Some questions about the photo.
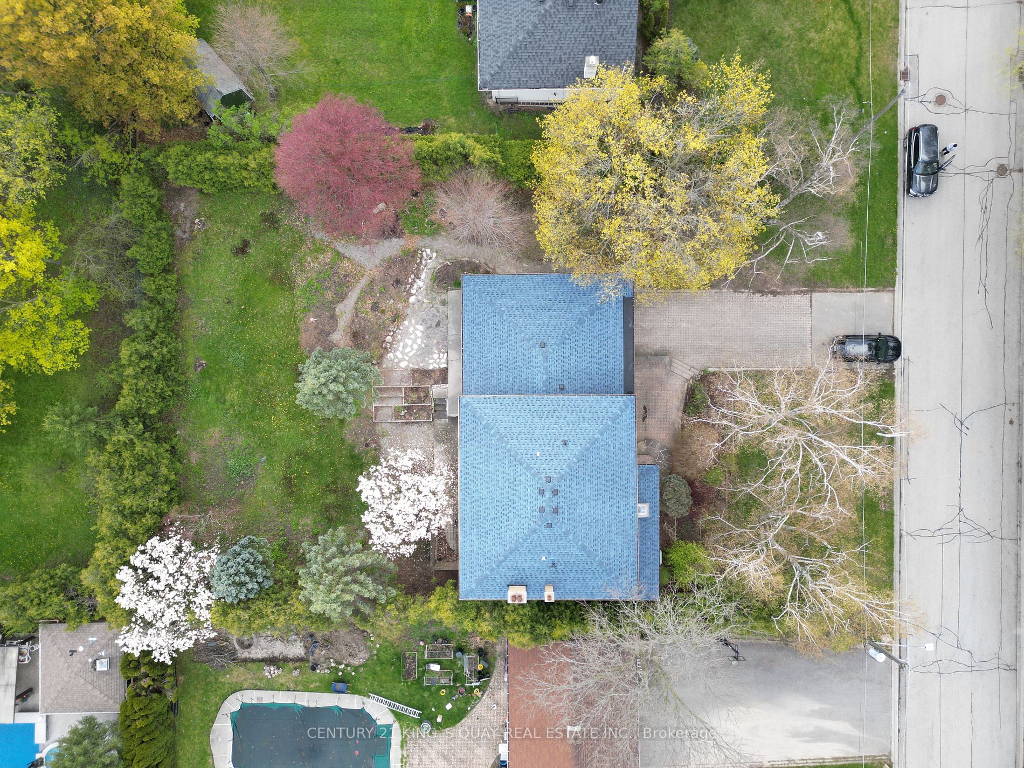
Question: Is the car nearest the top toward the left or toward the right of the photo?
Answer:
right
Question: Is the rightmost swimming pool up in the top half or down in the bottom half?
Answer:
bottom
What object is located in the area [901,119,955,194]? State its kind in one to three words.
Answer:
car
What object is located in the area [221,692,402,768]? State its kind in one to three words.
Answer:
swimming pool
